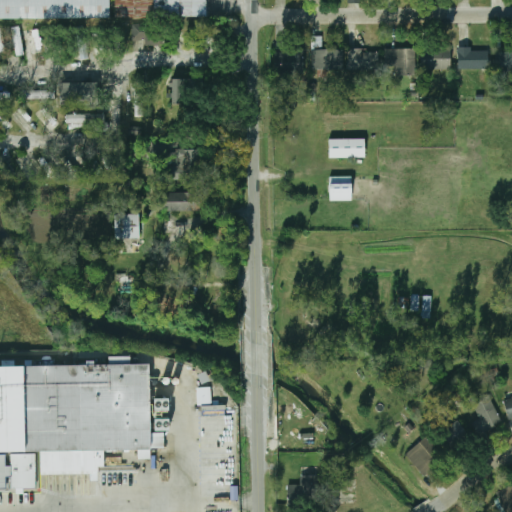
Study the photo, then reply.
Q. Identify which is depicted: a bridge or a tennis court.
bridge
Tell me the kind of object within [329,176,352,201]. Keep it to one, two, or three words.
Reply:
barn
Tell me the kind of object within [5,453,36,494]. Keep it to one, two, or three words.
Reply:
building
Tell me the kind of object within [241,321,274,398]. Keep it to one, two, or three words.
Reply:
bridge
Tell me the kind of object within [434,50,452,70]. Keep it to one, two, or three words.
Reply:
house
